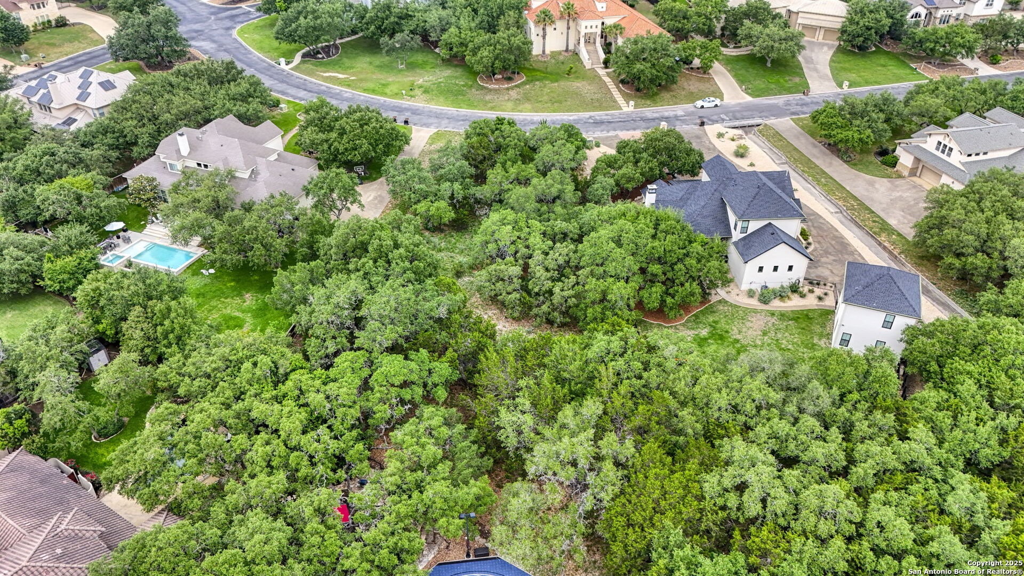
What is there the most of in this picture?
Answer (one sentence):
What you mostly see from above here is trees.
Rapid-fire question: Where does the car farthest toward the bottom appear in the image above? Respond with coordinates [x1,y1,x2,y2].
[695,97,721,109]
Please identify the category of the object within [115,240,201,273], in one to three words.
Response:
swimming pool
